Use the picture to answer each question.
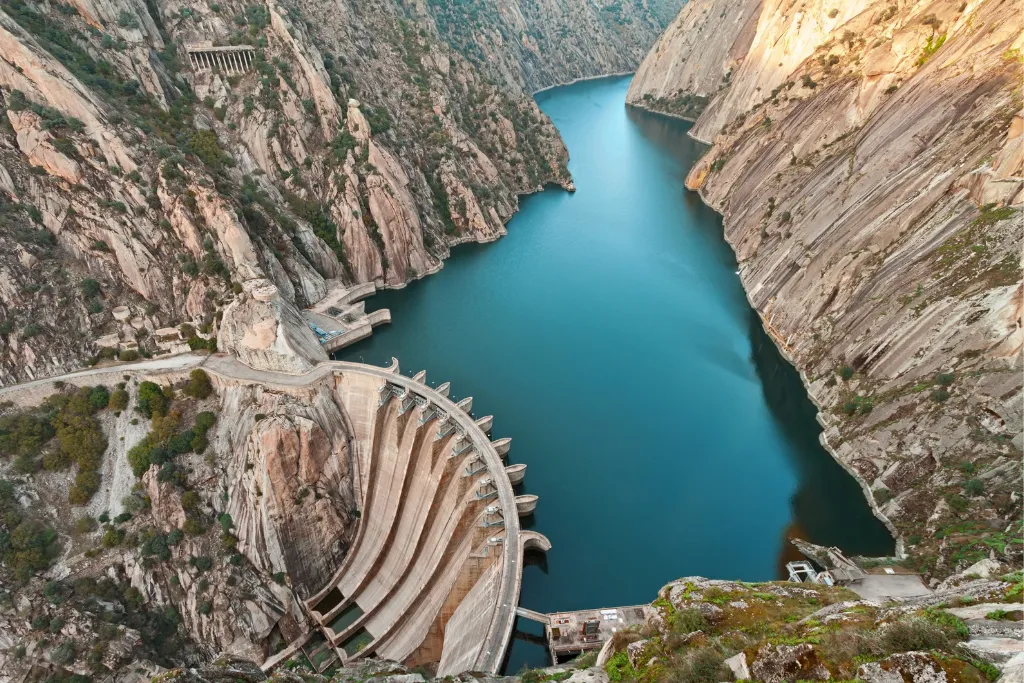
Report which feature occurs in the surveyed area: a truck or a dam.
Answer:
dam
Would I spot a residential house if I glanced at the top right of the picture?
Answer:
No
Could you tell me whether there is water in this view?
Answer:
Yes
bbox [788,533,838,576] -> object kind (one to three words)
pier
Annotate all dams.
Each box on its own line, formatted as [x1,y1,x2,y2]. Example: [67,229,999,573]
[268,356,551,673]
